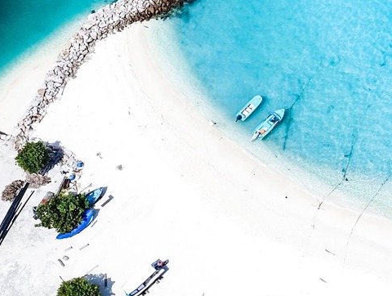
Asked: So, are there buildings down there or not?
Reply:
No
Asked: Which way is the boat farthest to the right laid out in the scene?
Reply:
diagonally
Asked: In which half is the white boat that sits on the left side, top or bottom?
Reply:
bottom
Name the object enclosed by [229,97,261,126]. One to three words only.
boat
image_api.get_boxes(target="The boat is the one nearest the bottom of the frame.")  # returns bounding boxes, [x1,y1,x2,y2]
[126,259,168,296]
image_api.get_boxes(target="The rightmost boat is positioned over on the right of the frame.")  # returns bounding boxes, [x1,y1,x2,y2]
[249,109,286,147]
